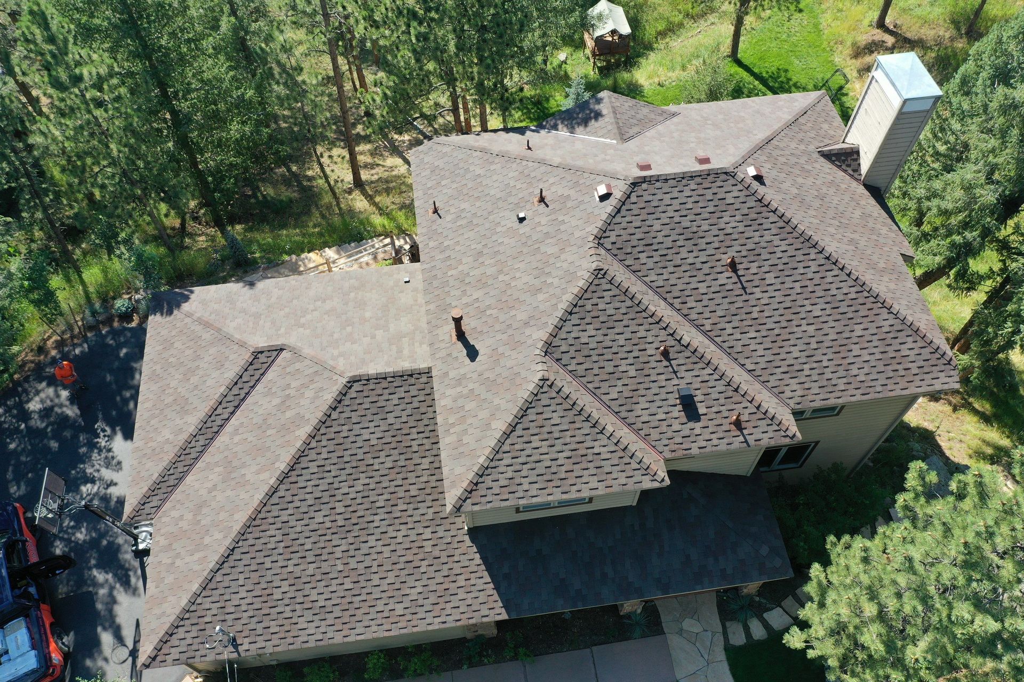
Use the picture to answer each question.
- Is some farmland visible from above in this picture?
No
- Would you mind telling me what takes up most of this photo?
buildings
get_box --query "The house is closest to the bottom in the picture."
[125,55,960,682]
